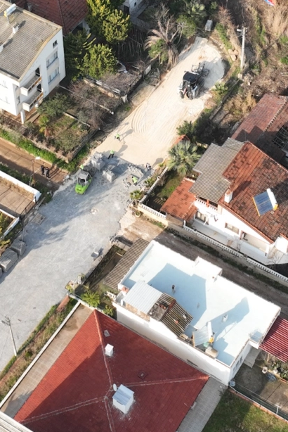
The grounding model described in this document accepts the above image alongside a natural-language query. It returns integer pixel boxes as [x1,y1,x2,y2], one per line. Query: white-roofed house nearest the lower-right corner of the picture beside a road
[112,239,281,385]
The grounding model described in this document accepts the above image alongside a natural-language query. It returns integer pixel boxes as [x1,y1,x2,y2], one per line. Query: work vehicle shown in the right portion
[170,62,210,106]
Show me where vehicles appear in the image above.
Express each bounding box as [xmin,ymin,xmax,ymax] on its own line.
[170,62,210,106]
[71,166,92,195]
